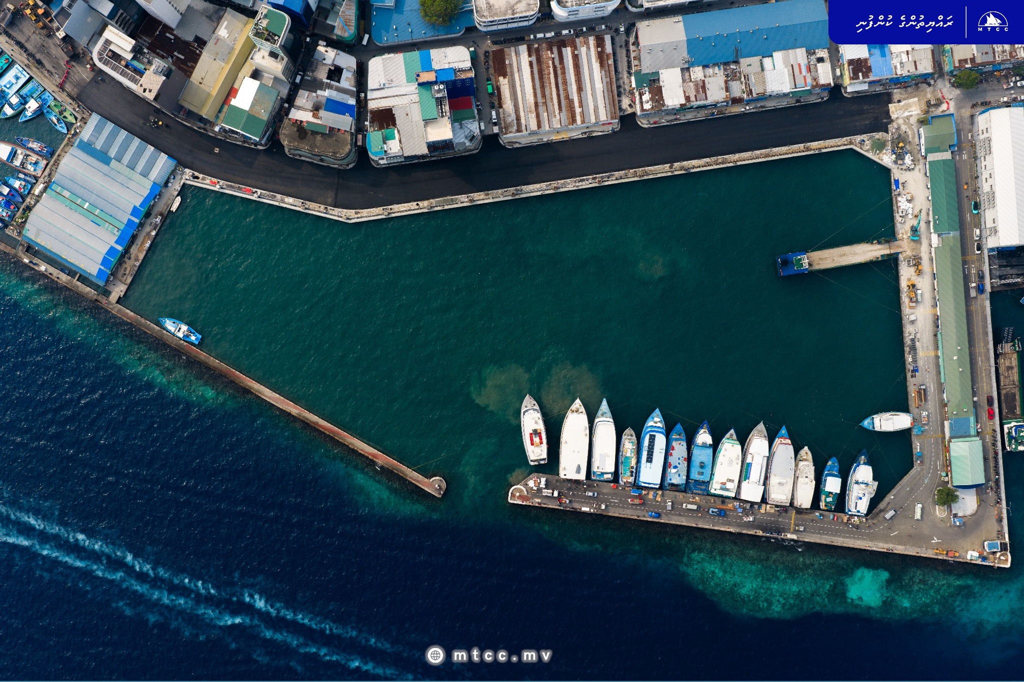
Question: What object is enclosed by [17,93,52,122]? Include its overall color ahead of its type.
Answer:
blue boat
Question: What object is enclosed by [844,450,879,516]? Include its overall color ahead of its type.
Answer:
white boat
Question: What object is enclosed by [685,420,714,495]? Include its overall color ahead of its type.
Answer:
blue boat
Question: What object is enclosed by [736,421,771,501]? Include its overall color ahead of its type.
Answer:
white boat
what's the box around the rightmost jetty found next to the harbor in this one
[508,114,1013,567]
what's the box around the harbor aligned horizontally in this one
[0,43,894,296]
